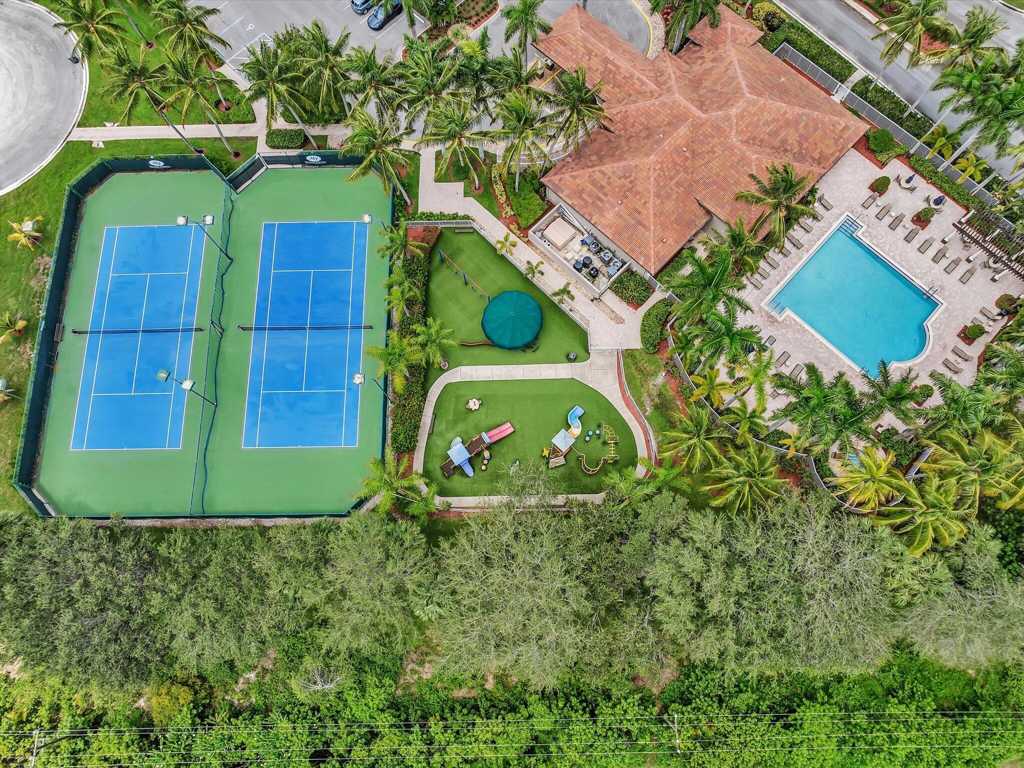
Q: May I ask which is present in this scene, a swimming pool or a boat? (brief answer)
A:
swimming pool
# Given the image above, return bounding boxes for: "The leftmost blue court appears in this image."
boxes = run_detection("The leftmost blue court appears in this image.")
[69,224,207,451]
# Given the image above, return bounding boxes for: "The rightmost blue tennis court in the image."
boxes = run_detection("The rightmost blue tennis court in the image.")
[240,220,372,449]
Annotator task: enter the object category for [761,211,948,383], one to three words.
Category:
swimming pool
